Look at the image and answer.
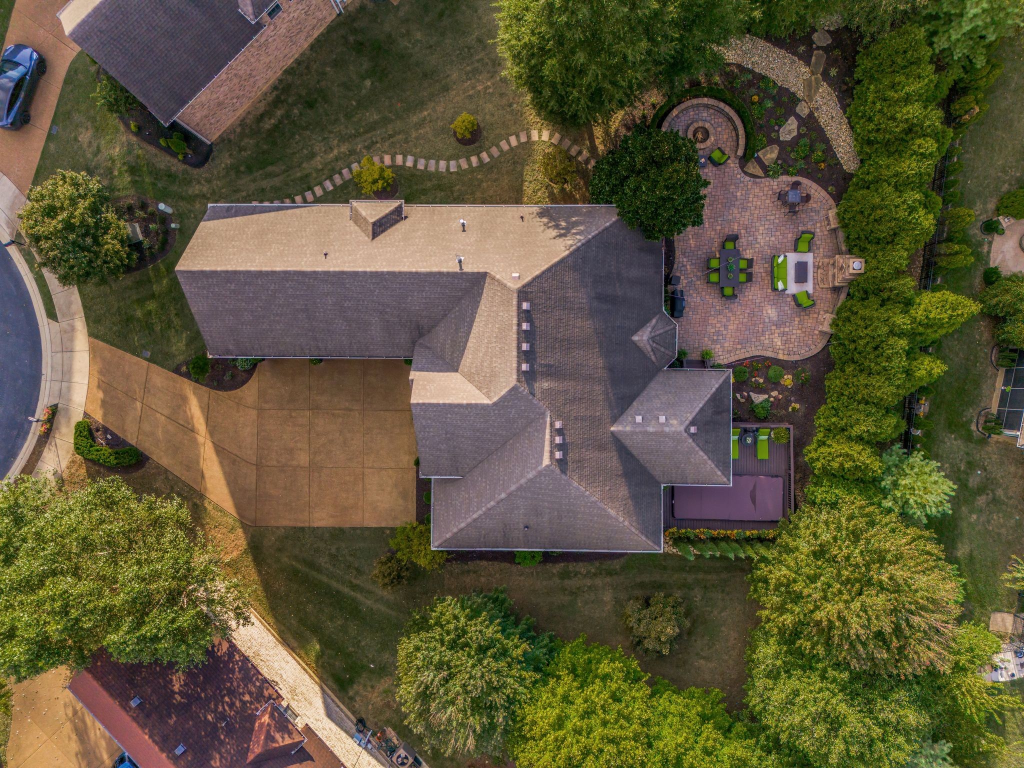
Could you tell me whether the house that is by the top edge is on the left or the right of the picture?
left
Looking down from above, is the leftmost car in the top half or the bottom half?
top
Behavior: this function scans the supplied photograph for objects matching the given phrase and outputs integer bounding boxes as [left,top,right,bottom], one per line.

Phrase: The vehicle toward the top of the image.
[0,40,50,131]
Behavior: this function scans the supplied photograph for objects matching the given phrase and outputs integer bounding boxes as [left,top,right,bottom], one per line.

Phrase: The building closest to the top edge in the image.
[56,0,352,142]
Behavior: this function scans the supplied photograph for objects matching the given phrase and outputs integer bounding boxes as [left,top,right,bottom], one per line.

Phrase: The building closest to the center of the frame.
[179,198,734,554]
